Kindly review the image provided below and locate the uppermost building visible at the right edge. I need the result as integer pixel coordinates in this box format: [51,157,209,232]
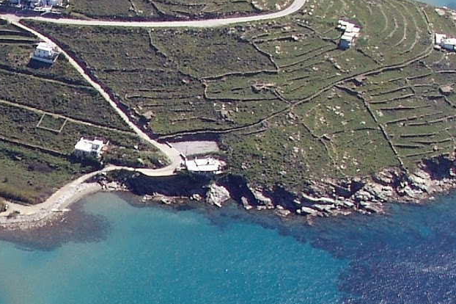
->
[432,33,456,53]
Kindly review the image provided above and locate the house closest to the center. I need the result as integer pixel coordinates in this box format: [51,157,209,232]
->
[184,158,219,179]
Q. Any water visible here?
Yes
